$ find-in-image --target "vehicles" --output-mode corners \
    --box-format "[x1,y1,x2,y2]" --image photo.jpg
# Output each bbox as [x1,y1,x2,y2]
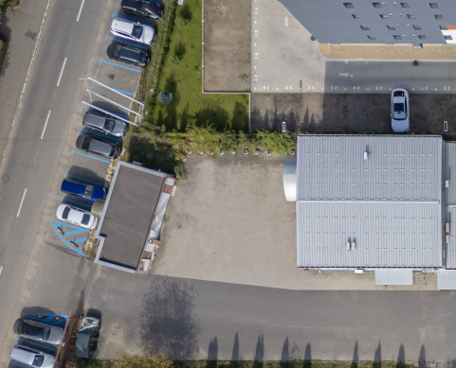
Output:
[73,313,102,360]
[78,133,121,158]
[82,111,128,135]
[9,346,56,368]
[110,18,155,45]
[58,175,108,202]
[389,88,410,132]
[121,0,165,20]
[55,203,99,229]
[108,41,150,67]
[15,319,65,344]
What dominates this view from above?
paved ground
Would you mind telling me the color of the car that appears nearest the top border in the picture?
black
